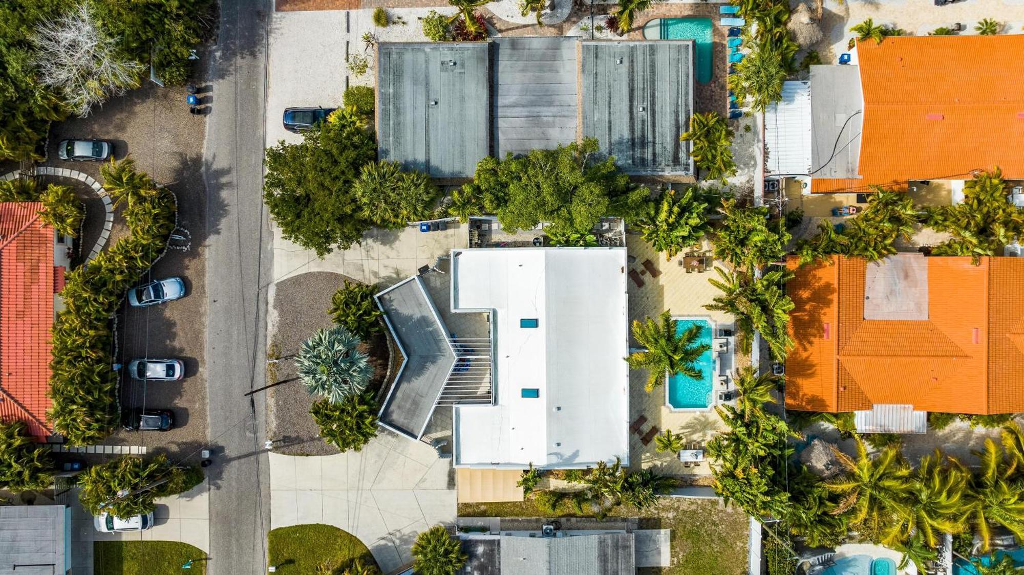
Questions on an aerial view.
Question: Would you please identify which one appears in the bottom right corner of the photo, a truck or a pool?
pool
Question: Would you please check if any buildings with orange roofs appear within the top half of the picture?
Yes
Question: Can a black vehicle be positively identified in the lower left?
Yes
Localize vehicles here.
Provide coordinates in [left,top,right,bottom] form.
[59,136,115,162]
[130,357,187,383]
[282,104,338,132]
[123,408,178,434]
[127,277,188,307]
[97,509,156,538]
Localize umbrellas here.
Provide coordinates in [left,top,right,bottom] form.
[779,4,823,48]
[798,435,839,475]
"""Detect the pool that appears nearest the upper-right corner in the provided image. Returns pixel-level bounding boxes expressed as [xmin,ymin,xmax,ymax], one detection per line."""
[643,16,715,86]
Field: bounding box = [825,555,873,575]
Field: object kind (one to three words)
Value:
swimming pool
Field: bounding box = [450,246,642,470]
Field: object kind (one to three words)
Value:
house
